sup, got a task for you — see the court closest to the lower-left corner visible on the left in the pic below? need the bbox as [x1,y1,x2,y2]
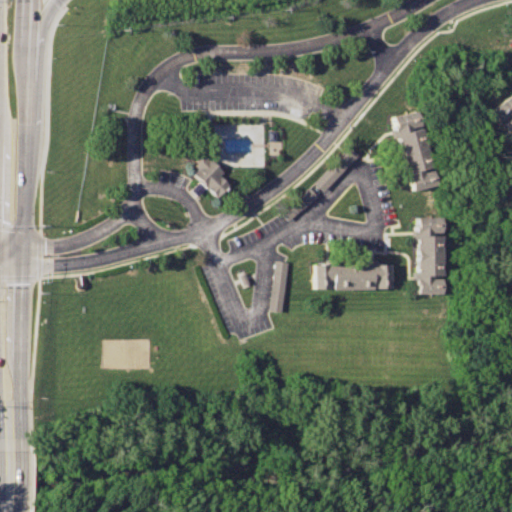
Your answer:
[100,339,150,370]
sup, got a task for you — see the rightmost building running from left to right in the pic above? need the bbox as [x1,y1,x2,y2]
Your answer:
[311,260,392,292]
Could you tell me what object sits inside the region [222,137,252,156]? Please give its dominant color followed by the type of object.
blue swimming pool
